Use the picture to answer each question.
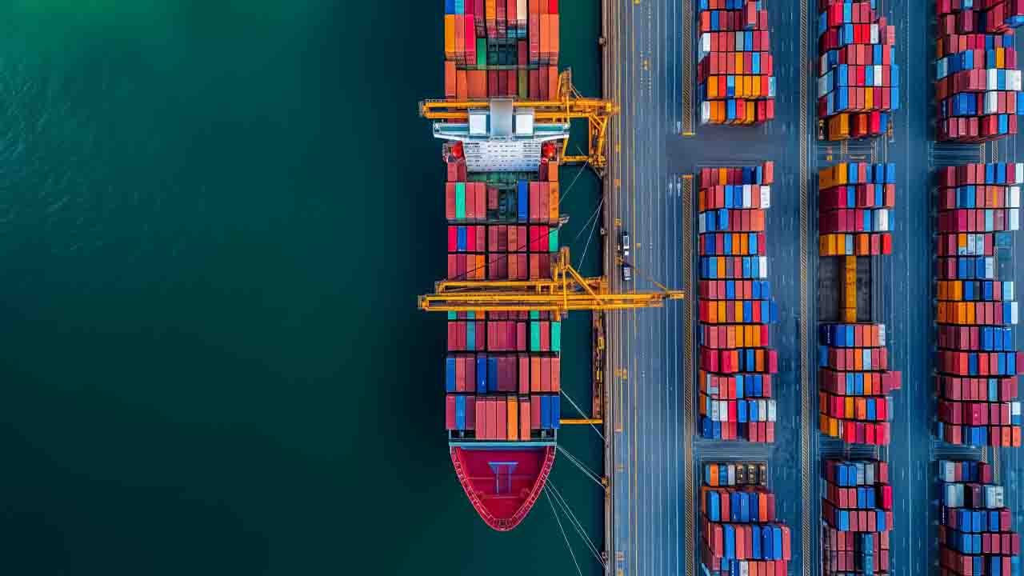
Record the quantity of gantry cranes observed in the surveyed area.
3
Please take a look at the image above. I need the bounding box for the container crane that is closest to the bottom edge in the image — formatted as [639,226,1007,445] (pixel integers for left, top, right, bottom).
[417,262,685,323]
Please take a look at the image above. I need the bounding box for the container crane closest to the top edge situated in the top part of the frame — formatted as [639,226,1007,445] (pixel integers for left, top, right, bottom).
[419,67,618,177]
